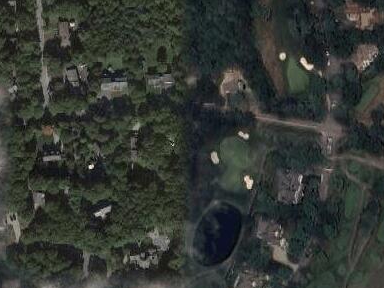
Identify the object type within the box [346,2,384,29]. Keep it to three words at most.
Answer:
house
